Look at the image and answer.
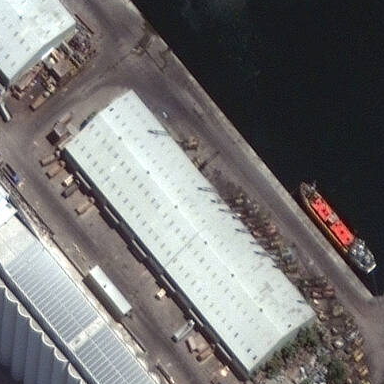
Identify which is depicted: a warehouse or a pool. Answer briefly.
warehouse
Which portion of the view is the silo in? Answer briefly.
bottom left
